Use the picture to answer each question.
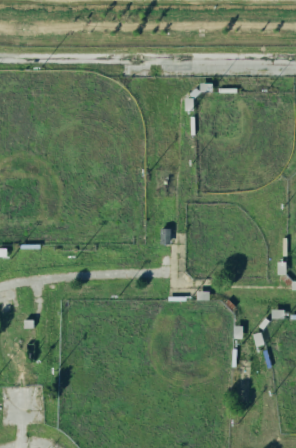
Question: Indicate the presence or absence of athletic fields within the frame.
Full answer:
Yes, this view includes an athletic field.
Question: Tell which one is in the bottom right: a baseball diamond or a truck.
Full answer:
Looking in the bottom right, you will find a baseball diamond.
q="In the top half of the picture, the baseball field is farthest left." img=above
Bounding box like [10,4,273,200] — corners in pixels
[0,70,146,244]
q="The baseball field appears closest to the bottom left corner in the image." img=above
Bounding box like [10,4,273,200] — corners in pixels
[60,299,235,448]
